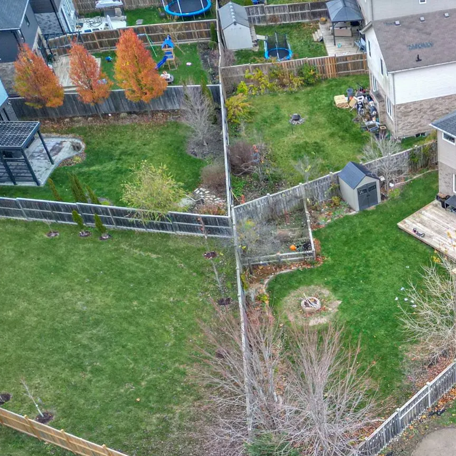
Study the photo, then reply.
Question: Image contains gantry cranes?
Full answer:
No, the picture doesn't show any gantry crane.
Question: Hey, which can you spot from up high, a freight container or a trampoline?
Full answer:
This aerial view contains a trampoline.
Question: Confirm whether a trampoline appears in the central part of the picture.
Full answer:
No, looking in the central part of the picture, there is no trampoline.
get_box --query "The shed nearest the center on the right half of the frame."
[334,158,381,211]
